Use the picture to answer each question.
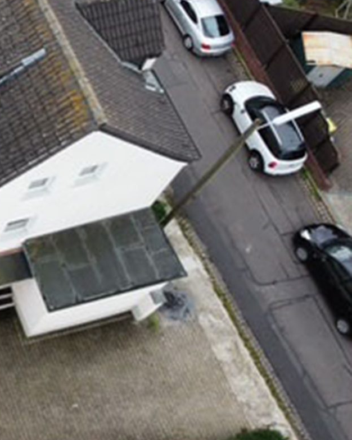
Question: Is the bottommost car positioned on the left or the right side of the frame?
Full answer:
It is on the right.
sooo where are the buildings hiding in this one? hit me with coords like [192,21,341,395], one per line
[295,32,352,92]
[0,0,201,256]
